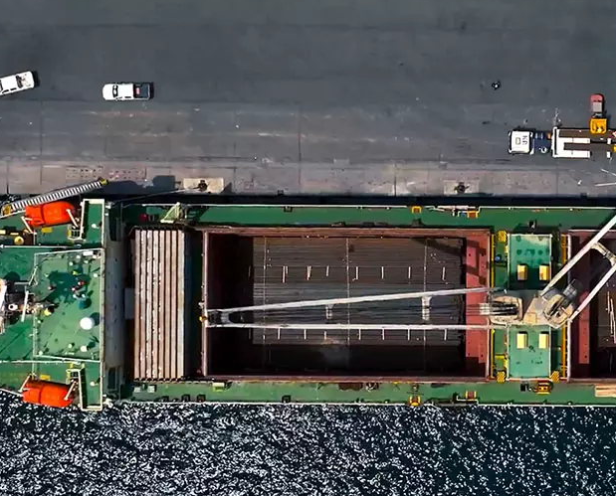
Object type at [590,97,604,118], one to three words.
work vehicle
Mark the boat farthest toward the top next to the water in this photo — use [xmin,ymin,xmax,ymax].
[27,200,80,229]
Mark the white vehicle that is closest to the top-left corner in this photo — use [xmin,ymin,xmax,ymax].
[0,70,38,97]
